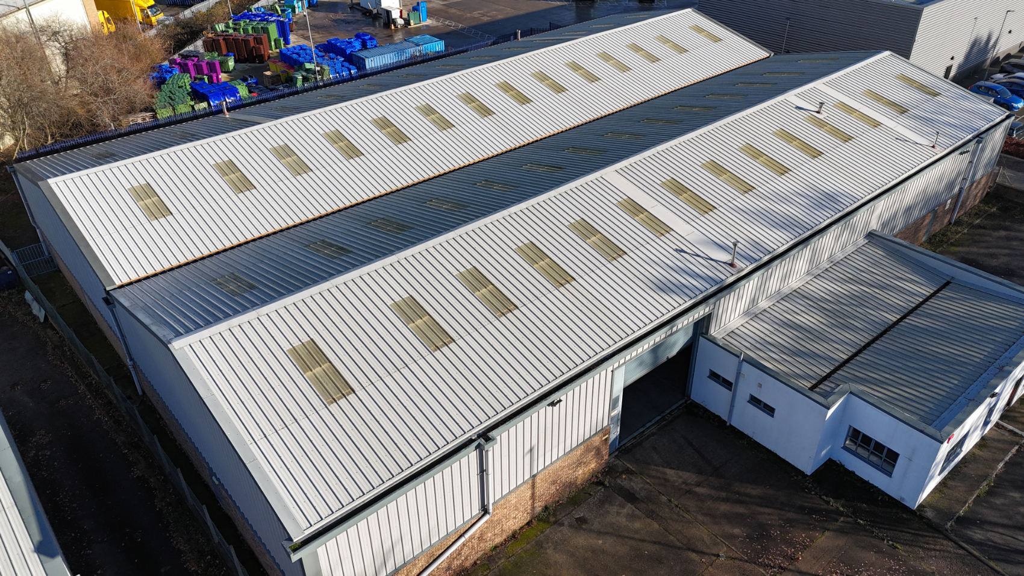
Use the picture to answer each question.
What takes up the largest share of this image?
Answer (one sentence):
For the most part, this view shows buildings.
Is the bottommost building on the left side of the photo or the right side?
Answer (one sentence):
The bottommost building sits on the left side.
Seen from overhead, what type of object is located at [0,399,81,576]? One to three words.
building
